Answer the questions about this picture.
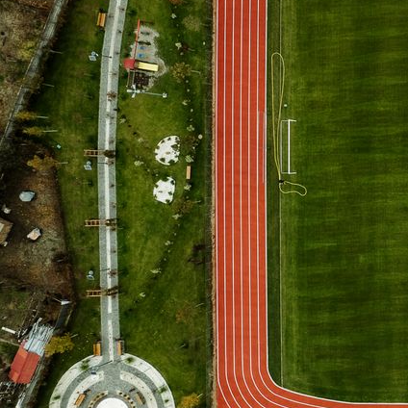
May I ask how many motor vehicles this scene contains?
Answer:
zero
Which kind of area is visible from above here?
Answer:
sports ground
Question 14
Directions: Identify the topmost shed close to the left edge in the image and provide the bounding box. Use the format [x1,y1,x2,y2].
[0,218,23,242]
